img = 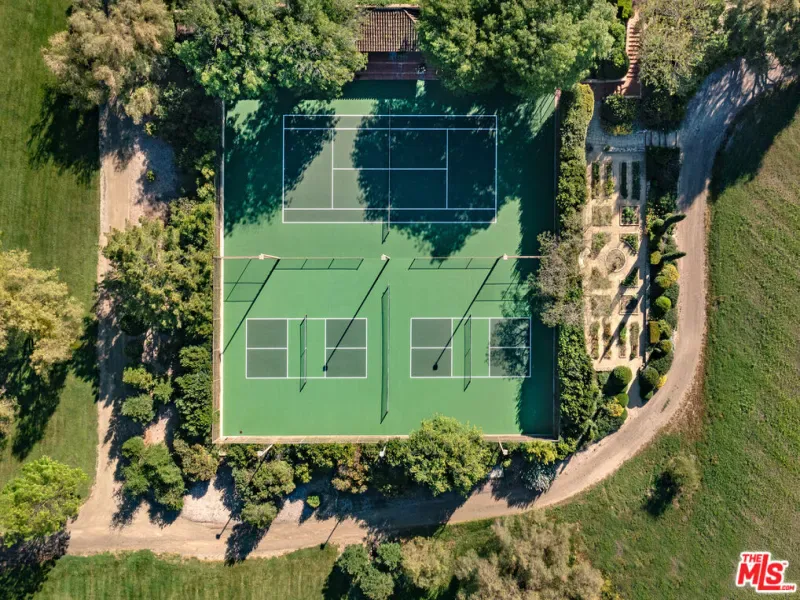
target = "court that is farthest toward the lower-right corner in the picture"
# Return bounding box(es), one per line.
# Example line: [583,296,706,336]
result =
[388,258,555,436]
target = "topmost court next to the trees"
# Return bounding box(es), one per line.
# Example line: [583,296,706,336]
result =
[223,78,555,258]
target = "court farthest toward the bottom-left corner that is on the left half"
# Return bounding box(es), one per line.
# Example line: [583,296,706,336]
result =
[223,258,388,436]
